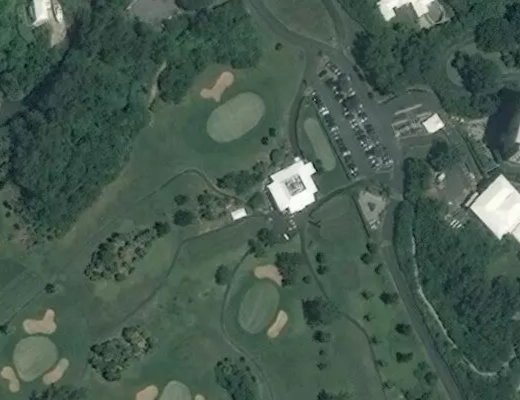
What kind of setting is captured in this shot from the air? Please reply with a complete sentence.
The picture captures a golf course.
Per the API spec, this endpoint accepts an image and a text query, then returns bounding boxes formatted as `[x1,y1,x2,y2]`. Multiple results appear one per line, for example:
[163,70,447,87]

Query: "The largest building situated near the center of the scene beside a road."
[268,156,317,213]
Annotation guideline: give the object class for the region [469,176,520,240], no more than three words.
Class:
building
